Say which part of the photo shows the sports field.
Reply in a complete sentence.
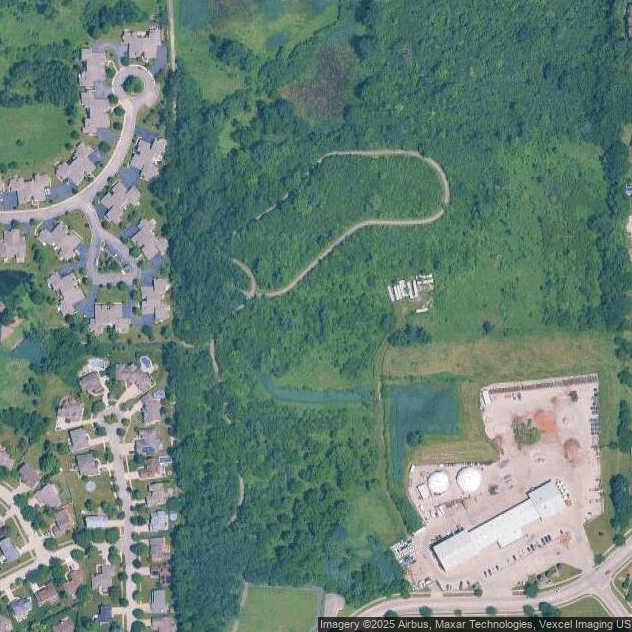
The sports field is in the bottom part of the image.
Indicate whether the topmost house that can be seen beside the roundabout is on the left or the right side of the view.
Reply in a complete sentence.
You can find the topmost house that can be seen beside the roundabout on the left side of the picture.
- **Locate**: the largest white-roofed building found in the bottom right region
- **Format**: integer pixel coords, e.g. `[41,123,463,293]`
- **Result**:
[434,483,566,571]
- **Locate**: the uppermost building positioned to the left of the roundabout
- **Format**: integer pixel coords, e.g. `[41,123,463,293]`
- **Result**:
[81,46,109,95]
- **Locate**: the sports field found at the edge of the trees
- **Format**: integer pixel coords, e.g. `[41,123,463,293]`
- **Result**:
[233,580,323,632]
